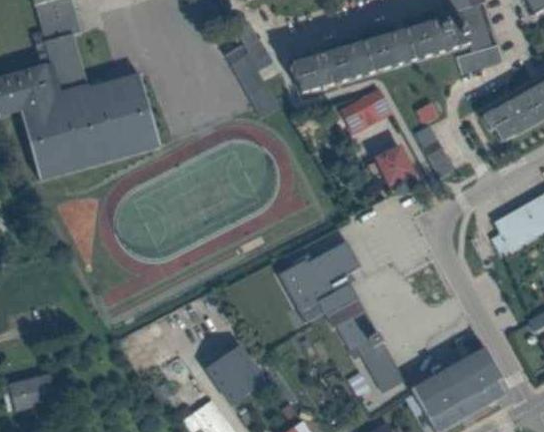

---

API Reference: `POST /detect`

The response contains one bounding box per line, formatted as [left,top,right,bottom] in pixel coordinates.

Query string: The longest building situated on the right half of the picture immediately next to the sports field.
[291,15,469,96]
